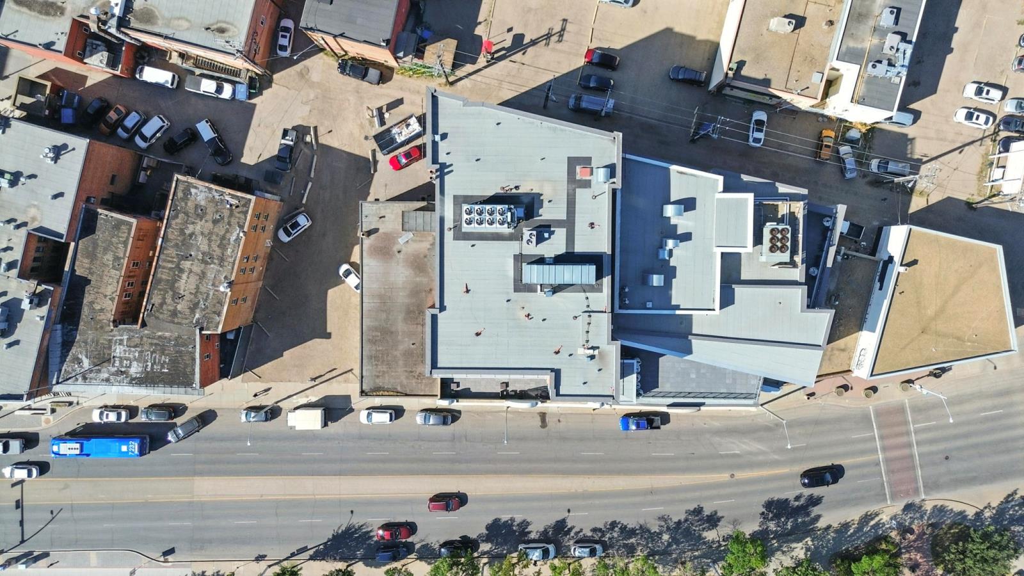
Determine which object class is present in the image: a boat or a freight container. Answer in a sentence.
It is a freight container that can be seen here.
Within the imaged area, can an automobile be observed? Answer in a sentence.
Yes, I can see an automobile in this picture.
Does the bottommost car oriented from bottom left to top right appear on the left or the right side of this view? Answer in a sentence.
It is on the left.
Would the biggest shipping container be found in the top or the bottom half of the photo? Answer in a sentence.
Seen from above, the biggest shipping container lies in the top half of the view.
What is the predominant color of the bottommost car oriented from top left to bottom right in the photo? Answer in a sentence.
The bottommost car oriented from top left to bottom right is white.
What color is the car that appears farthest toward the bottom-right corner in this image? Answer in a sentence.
The color of the car that appears farthest toward the bottom-right corner is black.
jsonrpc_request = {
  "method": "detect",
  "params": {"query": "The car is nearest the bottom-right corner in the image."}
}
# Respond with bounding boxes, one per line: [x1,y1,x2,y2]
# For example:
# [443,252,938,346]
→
[797,466,837,487]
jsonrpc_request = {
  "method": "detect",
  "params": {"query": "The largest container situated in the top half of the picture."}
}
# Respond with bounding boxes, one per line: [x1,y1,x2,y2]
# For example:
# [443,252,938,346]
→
[372,114,422,154]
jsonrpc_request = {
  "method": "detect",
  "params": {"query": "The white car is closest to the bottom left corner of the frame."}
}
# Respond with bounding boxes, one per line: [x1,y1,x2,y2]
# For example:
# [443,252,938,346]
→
[6,464,42,481]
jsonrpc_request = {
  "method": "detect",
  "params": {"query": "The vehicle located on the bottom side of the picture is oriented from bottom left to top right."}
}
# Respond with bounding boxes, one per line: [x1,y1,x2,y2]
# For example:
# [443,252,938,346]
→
[167,415,205,444]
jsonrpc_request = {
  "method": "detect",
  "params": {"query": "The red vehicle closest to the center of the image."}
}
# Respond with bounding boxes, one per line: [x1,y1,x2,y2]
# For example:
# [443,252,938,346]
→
[389,145,422,170]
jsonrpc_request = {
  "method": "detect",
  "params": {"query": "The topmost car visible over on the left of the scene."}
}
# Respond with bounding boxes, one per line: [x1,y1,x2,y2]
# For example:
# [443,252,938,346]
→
[277,19,295,56]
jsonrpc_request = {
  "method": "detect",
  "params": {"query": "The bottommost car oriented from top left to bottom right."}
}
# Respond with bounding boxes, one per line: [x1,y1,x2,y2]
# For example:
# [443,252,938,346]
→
[337,263,360,297]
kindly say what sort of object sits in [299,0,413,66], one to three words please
building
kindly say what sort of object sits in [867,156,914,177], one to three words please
vehicle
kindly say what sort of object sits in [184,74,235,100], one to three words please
truck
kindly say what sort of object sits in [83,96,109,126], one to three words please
car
